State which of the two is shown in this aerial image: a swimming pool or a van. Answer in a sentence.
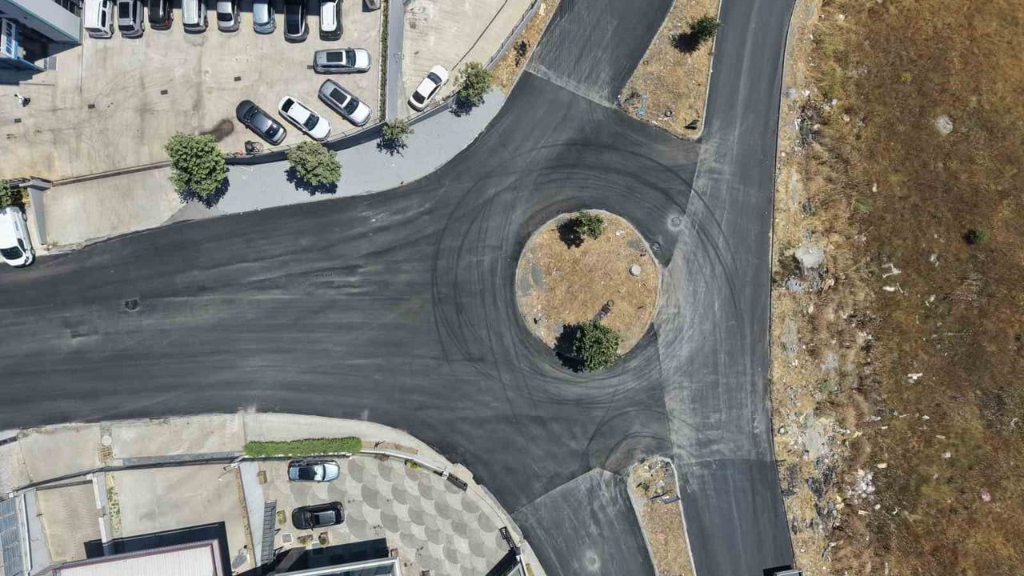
Of the two, only a van appears.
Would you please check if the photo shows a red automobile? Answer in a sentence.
No, the photo shows no red automobile.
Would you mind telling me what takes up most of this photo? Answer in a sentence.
The bulk of the photo consists of paved ground.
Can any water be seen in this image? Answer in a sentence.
No, the scene doesn't show any water.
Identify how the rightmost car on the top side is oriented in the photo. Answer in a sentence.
In this picture, the rightmost car on the top side is oriented at an angle.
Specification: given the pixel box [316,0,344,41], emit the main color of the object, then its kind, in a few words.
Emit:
white car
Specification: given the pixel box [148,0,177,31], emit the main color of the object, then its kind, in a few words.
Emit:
black car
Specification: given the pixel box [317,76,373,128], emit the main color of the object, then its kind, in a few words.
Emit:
gray car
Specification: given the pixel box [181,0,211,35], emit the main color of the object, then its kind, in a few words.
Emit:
gray car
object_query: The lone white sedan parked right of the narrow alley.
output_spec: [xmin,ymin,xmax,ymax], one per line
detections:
[404,62,453,115]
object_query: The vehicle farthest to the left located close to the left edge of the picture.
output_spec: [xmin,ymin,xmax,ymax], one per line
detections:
[0,205,39,268]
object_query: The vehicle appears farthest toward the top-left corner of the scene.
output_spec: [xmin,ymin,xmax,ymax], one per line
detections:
[81,0,116,39]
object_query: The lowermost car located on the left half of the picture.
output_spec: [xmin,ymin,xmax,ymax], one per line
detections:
[291,501,346,532]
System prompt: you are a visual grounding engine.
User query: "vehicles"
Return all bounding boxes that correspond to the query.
[283,0,310,43]
[81,0,116,39]
[217,0,243,33]
[404,62,453,115]
[234,99,290,148]
[312,44,373,76]
[253,0,279,35]
[0,205,39,268]
[148,0,177,31]
[316,0,344,41]
[116,0,147,39]
[768,564,805,576]
[277,94,333,142]
[181,0,211,35]
[287,457,341,484]
[317,76,373,128]
[291,501,346,532]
